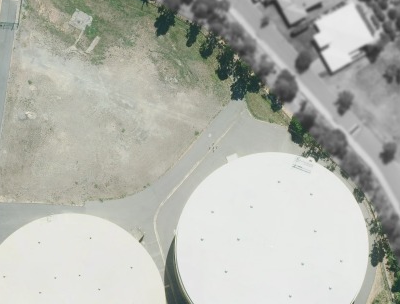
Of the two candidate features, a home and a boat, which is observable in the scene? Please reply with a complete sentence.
The one in the frame is a home.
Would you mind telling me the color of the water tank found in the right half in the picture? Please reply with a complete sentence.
The water tank found in the right half is white.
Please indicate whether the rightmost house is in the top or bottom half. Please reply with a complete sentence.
The rightmost house is in the top half of the image.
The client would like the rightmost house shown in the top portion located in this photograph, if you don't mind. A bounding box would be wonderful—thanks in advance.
[314,2,375,74]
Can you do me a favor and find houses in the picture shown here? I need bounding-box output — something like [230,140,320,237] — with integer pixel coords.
[314,2,375,74]
[278,0,320,26]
